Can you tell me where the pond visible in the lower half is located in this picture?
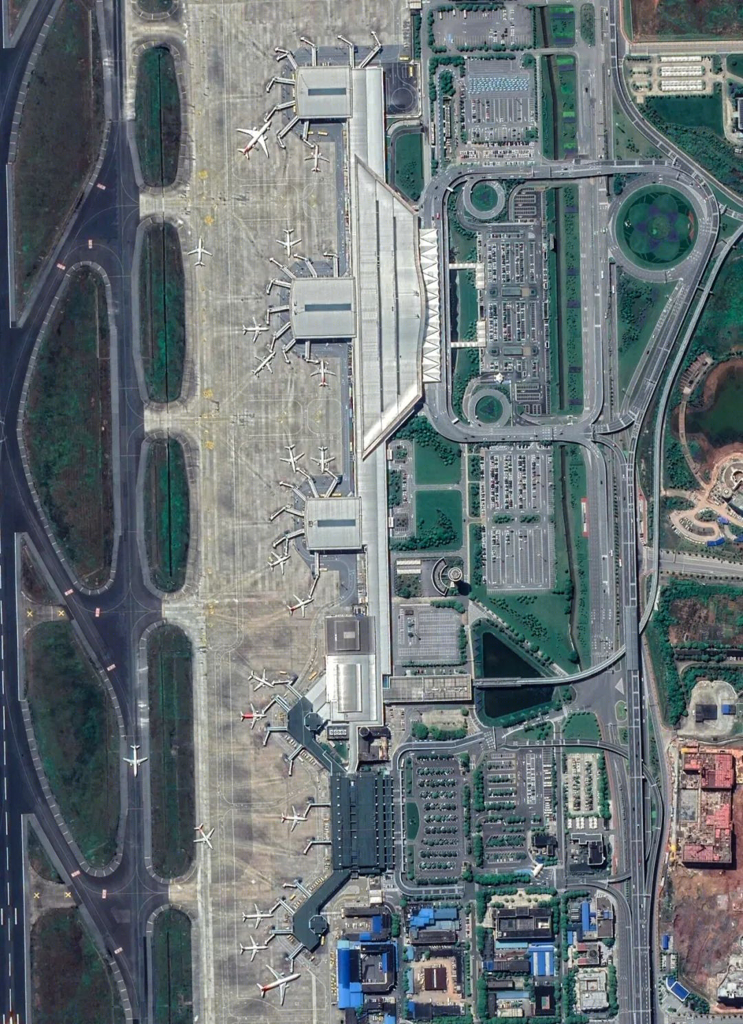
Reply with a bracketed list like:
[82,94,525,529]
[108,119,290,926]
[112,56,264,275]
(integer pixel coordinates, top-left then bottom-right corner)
[483,633,555,718]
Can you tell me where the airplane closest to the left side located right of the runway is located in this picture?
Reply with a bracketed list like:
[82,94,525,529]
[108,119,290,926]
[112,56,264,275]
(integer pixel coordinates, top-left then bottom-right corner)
[122,745,147,776]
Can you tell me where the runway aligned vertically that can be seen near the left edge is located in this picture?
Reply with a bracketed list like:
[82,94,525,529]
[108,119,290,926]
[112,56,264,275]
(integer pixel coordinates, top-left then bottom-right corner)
[0,0,26,1024]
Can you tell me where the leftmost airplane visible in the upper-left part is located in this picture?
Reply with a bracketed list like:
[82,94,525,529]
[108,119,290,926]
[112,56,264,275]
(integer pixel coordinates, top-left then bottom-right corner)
[187,237,212,265]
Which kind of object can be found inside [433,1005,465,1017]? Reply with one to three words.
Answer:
building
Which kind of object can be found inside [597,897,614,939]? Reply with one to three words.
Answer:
building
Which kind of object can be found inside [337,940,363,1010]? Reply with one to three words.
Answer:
hangar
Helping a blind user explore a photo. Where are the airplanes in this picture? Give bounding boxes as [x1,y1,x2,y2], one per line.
[242,904,273,929]
[310,360,335,386]
[255,966,301,1006]
[276,229,301,256]
[251,351,275,376]
[287,595,313,615]
[267,551,290,571]
[241,704,266,729]
[236,122,270,160]
[122,745,147,776]
[281,806,307,831]
[304,144,329,171]
[187,237,212,265]
[242,317,268,341]
[249,671,273,692]
[310,446,335,472]
[280,445,304,471]
[240,936,268,962]
[194,825,215,849]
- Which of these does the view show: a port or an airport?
airport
